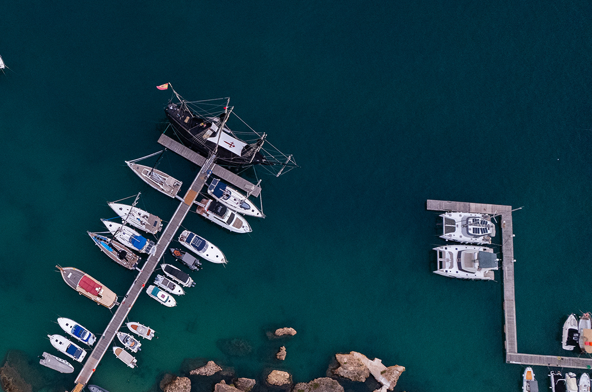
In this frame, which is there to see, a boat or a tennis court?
boat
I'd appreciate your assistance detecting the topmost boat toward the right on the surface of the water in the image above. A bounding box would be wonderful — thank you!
[439,209,524,245]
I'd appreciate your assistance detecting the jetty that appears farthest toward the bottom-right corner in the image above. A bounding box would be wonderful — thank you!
[425,200,592,369]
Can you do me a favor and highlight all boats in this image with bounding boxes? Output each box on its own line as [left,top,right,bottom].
[55,266,122,311]
[197,200,254,234]
[48,335,87,364]
[40,353,74,372]
[114,348,138,368]
[178,232,232,268]
[117,148,182,198]
[434,246,508,280]
[53,316,98,348]
[439,209,524,245]
[576,373,590,392]
[88,386,106,392]
[162,265,197,290]
[149,271,188,295]
[117,333,143,352]
[77,226,141,270]
[92,213,158,256]
[104,193,167,234]
[548,372,564,392]
[564,370,578,392]
[126,323,157,340]
[576,314,592,353]
[169,248,202,272]
[561,314,577,350]
[145,285,178,307]
[521,367,538,392]
[205,180,271,223]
